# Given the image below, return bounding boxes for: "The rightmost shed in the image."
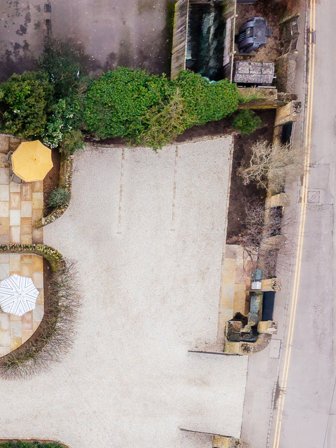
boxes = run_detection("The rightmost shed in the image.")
[223,62,278,93]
